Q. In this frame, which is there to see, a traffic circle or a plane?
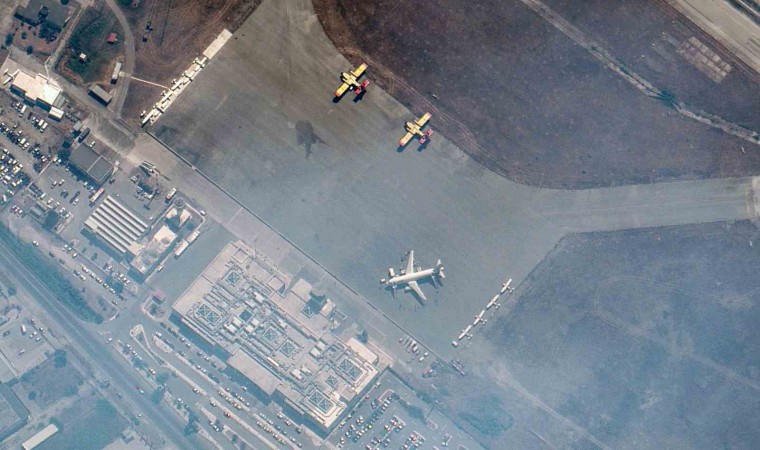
plane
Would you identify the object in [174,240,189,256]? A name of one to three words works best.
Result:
vehicle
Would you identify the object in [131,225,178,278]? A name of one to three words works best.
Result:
building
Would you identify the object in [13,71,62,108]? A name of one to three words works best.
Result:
hangar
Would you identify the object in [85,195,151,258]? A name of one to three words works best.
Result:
building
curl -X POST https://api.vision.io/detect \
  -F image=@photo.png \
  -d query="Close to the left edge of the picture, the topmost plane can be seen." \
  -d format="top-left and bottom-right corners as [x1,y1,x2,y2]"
[1,68,19,83]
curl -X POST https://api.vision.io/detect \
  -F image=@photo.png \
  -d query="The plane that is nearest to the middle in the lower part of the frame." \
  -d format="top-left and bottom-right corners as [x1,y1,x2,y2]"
[387,250,443,299]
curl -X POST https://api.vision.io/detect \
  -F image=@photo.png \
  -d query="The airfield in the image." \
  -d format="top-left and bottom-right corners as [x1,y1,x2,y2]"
[148,0,760,366]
